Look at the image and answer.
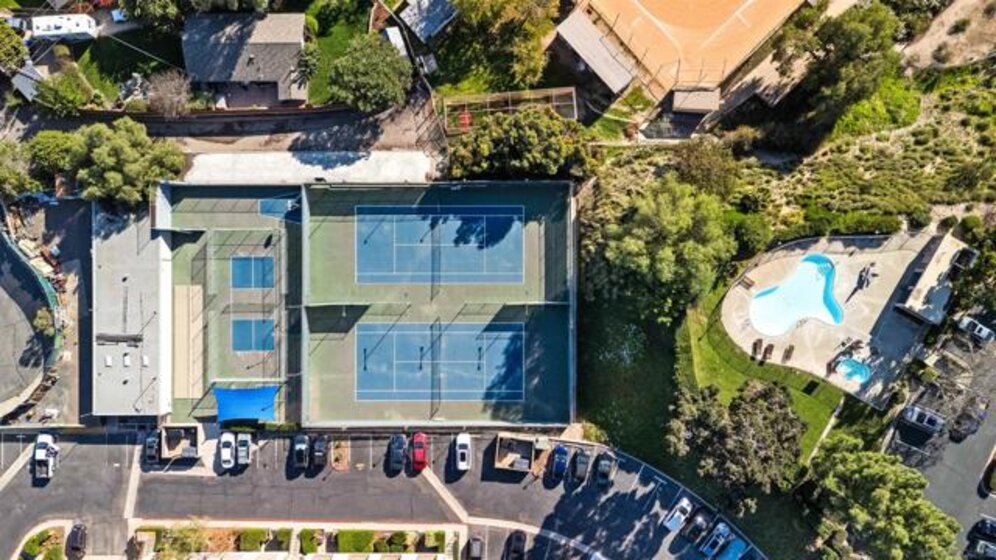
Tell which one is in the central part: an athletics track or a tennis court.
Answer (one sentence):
Looking in the central part, you will find a tennis court.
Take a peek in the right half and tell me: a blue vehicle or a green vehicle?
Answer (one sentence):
The one visible in the right half is a blue vehicle.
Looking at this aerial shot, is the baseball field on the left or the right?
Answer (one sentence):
You can find the baseball field on the right side of the picture.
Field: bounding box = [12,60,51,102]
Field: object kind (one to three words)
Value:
shed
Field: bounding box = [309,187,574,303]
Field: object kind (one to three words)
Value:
tennis court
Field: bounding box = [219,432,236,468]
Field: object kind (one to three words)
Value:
car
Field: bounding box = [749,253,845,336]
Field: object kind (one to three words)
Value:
swimming pool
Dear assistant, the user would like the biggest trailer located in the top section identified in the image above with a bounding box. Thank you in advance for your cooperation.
[33,14,118,43]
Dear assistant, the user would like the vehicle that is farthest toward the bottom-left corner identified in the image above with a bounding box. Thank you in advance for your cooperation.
[66,524,87,560]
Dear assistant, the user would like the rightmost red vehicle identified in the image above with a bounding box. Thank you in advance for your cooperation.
[411,433,428,469]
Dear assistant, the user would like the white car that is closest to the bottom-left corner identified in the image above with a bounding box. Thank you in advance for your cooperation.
[36,434,57,476]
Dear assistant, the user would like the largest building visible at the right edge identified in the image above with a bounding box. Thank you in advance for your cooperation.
[880,233,969,325]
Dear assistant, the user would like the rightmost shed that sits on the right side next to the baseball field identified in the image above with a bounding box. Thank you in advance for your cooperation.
[669,88,720,116]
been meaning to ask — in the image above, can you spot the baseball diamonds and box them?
[591,0,803,97]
